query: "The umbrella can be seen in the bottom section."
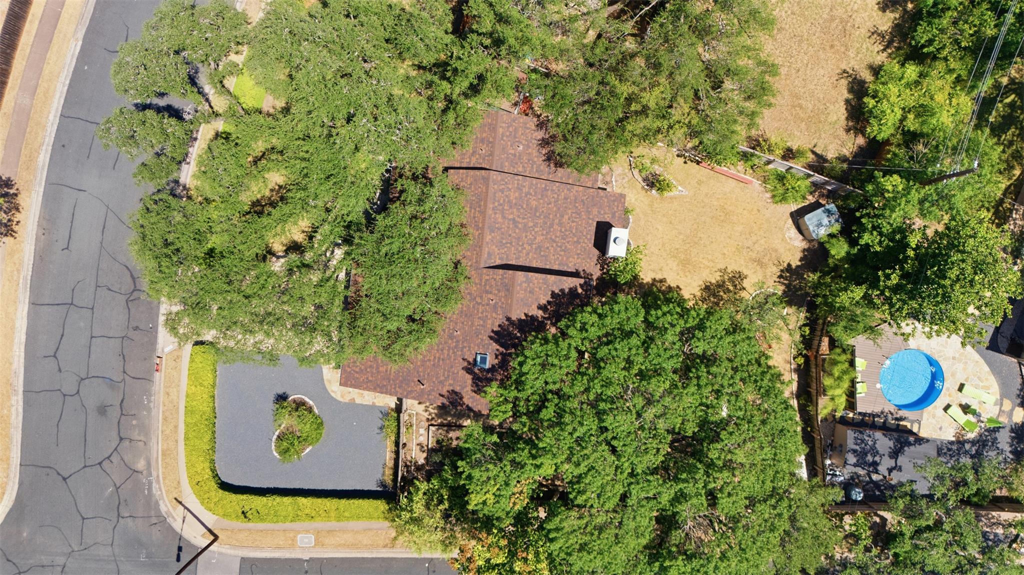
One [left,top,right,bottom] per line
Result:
[974,413,1008,426]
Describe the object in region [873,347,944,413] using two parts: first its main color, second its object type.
blue swimming pool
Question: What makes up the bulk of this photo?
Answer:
trees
